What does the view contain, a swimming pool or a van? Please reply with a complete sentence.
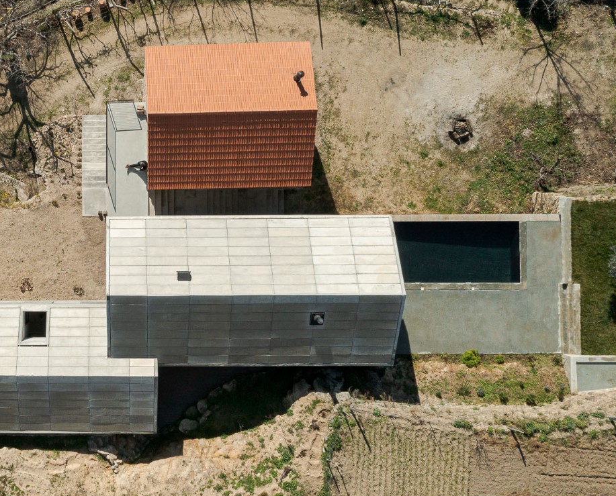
This aerial view contains a swimming pool.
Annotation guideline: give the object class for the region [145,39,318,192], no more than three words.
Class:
house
